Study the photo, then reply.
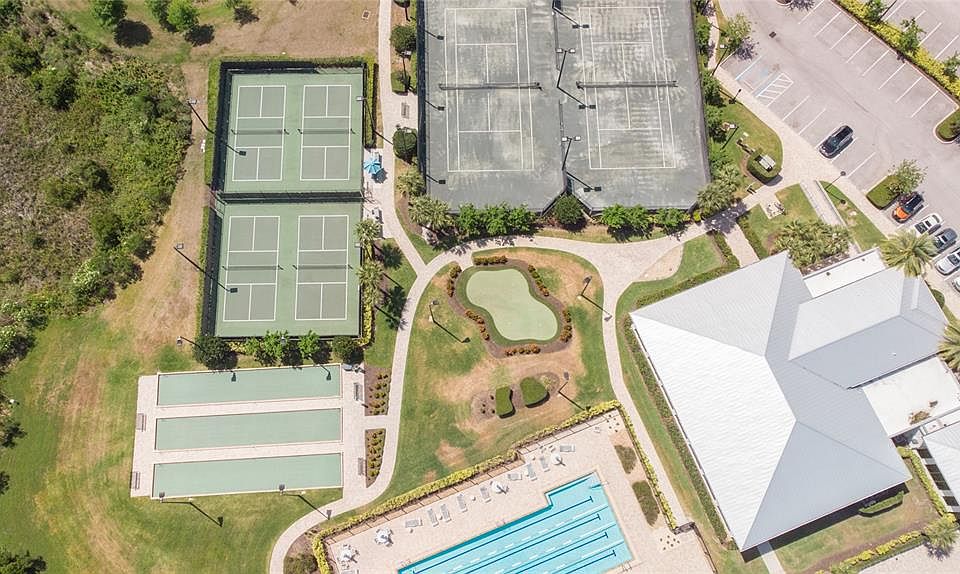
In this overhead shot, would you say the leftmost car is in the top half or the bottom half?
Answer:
top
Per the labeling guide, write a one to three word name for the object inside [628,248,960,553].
building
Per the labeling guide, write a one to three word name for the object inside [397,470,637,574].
swimming pool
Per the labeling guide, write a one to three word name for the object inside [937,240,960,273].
car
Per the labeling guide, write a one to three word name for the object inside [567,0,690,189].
tennis court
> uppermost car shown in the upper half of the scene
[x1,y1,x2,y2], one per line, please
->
[818,125,853,158]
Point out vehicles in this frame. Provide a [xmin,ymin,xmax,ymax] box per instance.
[952,269,960,288]
[924,229,958,261]
[908,215,941,246]
[892,196,923,226]
[818,125,853,158]
[937,240,960,273]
